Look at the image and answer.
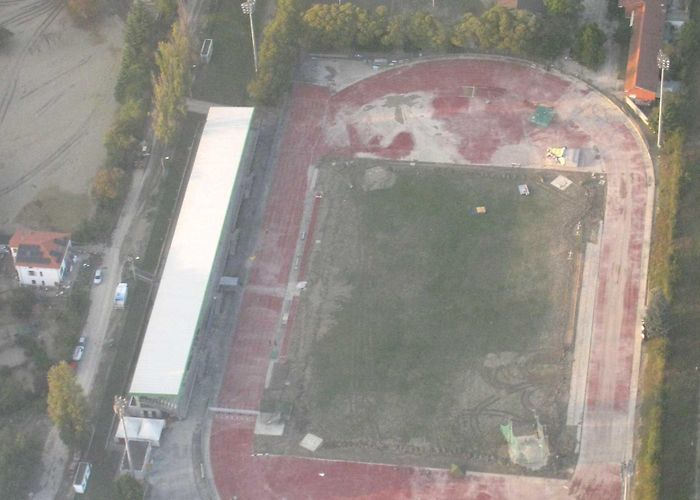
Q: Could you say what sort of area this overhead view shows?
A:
sports ground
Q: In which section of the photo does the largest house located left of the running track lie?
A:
left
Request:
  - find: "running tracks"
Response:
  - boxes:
[201,56,654,500]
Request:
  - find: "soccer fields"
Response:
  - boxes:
[254,161,605,475]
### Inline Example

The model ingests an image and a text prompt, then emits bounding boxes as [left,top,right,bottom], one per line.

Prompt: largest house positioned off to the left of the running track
[13,229,71,286]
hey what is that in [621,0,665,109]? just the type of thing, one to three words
building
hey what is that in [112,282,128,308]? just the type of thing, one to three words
vehicle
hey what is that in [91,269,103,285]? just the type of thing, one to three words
vehicle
